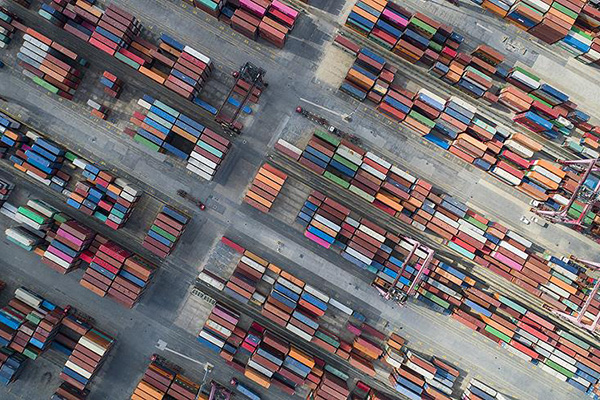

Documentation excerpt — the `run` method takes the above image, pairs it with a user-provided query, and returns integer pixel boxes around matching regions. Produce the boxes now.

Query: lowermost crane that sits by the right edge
[537,253,600,334]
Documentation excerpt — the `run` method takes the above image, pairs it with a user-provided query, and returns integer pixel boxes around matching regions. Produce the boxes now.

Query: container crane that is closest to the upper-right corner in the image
[523,151,600,221]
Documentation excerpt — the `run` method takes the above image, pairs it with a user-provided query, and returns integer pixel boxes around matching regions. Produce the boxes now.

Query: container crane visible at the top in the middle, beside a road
[213,59,272,136]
